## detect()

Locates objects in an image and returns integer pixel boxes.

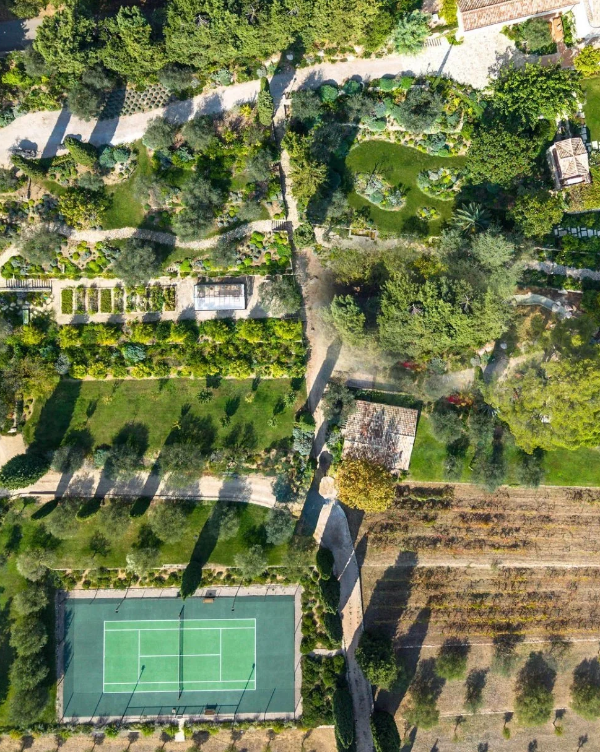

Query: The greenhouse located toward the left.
[194,283,248,311]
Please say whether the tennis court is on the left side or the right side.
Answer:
left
